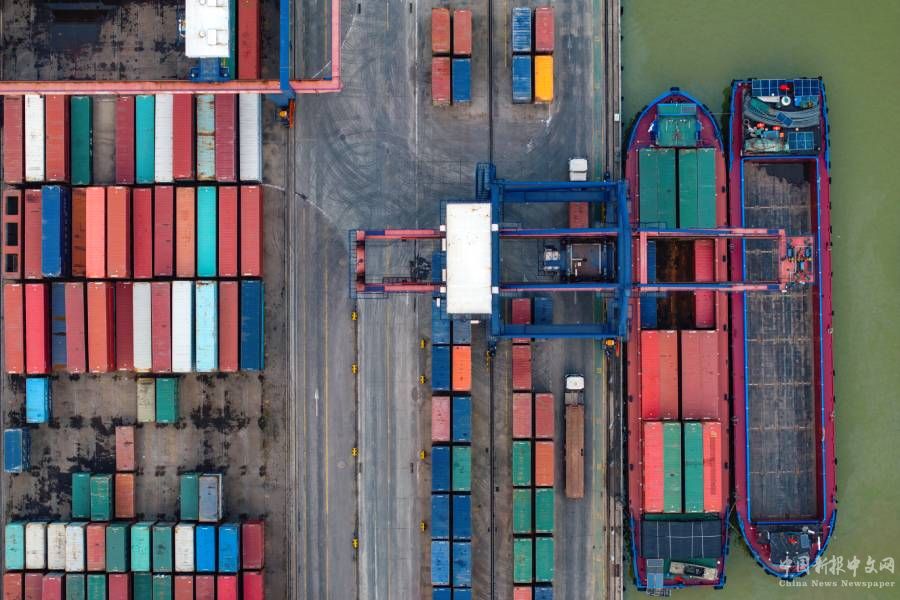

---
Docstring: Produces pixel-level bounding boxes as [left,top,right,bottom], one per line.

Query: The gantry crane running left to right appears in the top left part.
[0,0,342,127]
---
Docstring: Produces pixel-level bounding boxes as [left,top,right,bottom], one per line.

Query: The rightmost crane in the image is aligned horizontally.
[349,162,813,370]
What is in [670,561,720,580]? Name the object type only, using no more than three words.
boat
